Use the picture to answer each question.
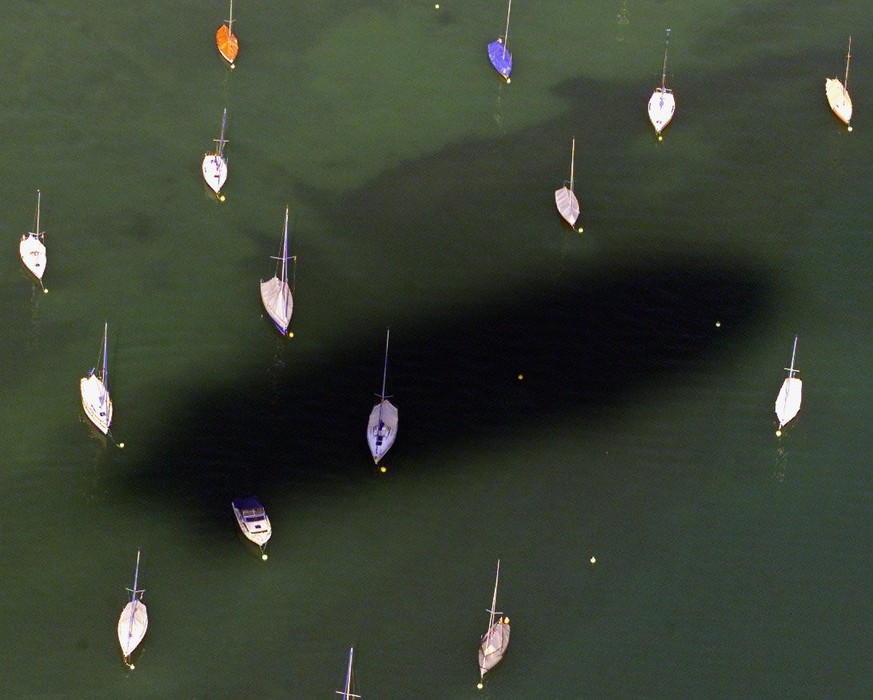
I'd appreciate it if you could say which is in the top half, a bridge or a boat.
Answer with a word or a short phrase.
boat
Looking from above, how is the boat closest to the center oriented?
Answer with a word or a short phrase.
from top to bottom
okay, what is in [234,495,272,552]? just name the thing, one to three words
boat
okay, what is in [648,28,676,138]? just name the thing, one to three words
boat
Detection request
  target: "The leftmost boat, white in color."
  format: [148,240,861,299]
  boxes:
[21,189,49,284]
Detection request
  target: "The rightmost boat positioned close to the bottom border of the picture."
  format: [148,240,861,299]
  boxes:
[477,558,514,681]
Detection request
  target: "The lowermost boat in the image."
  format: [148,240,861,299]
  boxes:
[333,646,360,700]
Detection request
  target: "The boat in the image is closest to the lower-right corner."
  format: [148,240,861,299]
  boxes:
[775,334,804,429]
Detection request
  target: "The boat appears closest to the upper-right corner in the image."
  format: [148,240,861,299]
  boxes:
[824,34,853,127]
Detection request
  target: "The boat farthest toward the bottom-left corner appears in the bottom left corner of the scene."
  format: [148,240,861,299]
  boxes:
[116,549,149,661]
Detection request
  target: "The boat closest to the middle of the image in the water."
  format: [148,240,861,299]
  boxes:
[365,327,399,469]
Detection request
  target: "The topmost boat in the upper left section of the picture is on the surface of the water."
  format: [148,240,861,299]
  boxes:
[217,0,240,66]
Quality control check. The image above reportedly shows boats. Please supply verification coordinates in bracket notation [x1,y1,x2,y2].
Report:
[203,107,228,199]
[116,549,149,661]
[234,495,272,552]
[217,0,240,66]
[489,0,513,81]
[82,321,114,439]
[555,136,581,229]
[21,189,49,284]
[648,28,676,138]
[365,327,399,469]
[775,334,804,429]
[477,558,514,681]
[824,34,853,127]
[333,646,360,700]
[261,203,297,338]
